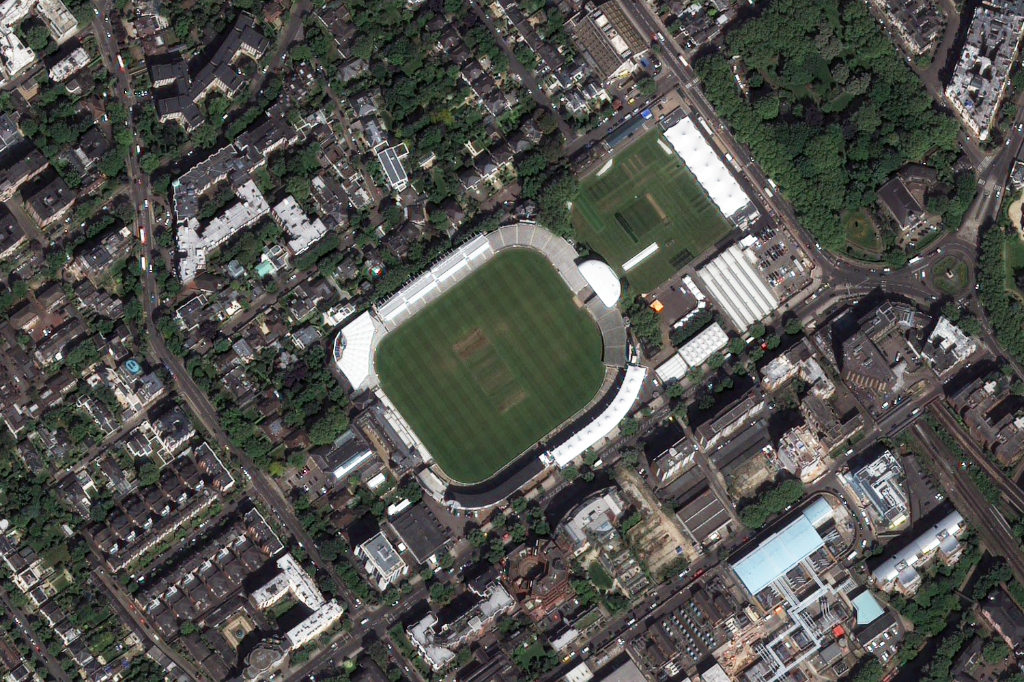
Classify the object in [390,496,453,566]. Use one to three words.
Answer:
building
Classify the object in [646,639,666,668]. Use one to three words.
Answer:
shed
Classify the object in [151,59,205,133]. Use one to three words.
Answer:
building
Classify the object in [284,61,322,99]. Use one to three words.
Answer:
house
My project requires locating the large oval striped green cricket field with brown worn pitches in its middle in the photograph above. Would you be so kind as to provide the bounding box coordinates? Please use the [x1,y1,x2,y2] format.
[375,246,607,485]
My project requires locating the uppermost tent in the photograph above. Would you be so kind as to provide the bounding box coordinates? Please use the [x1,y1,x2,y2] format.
[665,116,750,219]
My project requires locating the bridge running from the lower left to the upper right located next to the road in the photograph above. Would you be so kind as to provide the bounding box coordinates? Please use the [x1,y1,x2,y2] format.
[864,375,960,451]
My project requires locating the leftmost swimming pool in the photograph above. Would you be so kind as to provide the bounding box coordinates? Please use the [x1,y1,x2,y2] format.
[120,360,140,377]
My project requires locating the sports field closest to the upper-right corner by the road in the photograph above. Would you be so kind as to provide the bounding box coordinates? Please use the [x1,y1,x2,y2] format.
[570,129,733,299]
